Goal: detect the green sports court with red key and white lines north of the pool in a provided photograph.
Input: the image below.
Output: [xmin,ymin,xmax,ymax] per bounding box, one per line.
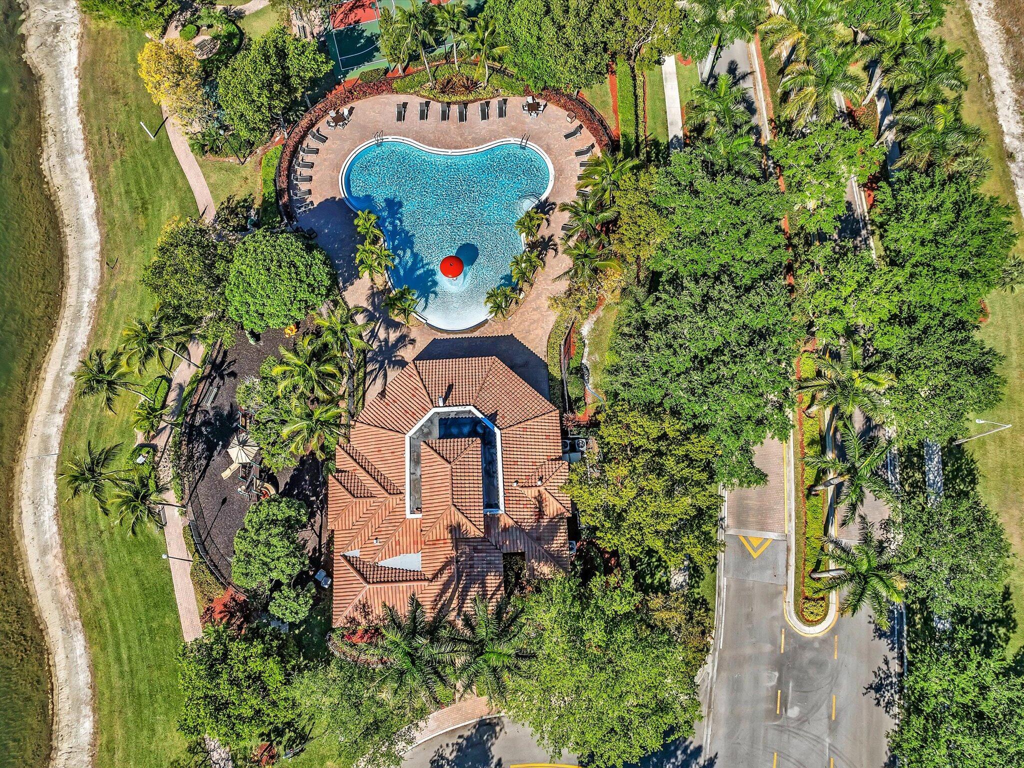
[309,0,562,82]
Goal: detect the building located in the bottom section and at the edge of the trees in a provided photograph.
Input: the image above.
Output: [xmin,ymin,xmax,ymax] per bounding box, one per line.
[327,356,573,628]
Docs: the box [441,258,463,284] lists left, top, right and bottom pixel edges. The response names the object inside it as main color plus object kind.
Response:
red fountain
